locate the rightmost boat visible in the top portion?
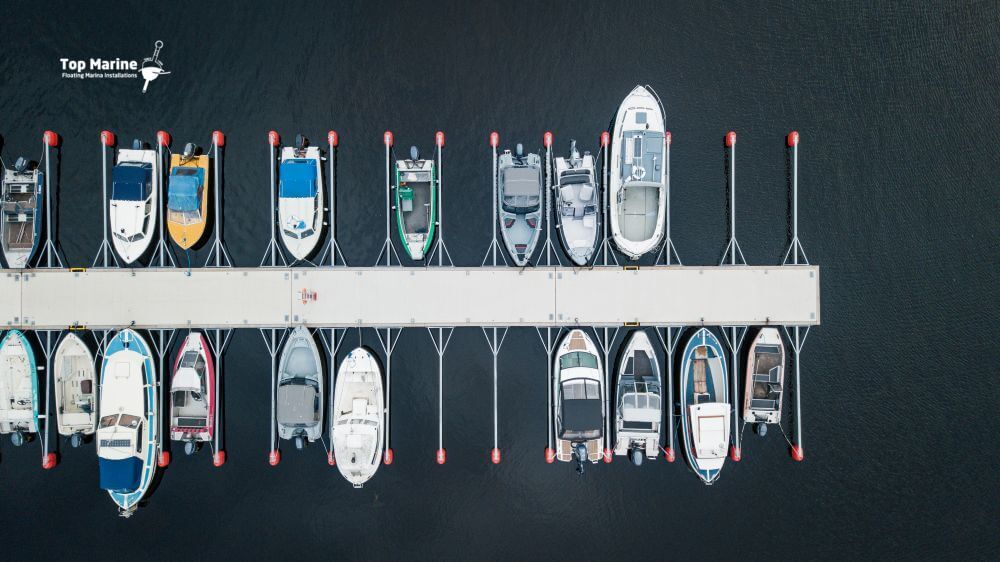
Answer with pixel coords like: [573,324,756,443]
[608,85,666,260]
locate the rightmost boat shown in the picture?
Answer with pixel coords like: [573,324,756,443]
[742,327,785,436]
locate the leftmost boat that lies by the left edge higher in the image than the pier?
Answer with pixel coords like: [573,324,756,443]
[0,150,46,268]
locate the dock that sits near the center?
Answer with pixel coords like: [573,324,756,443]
[0,265,819,329]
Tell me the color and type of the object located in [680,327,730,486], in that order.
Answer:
white boat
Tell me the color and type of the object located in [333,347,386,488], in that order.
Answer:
white boat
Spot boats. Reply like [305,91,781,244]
[110,139,159,265]
[0,150,46,268]
[278,133,324,261]
[608,85,666,260]
[277,326,323,450]
[614,330,661,464]
[333,347,386,488]
[555,131,601,266]
[497,143,542,267]
[395,146,438,261]
[98,328,159,518]
[167,138,211,250]
[742,327,785,436]
[53,333,101,447]
[680,327,730,486]
[172,332,220,454]
[554,329,605,471]
[0,330,46,445]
